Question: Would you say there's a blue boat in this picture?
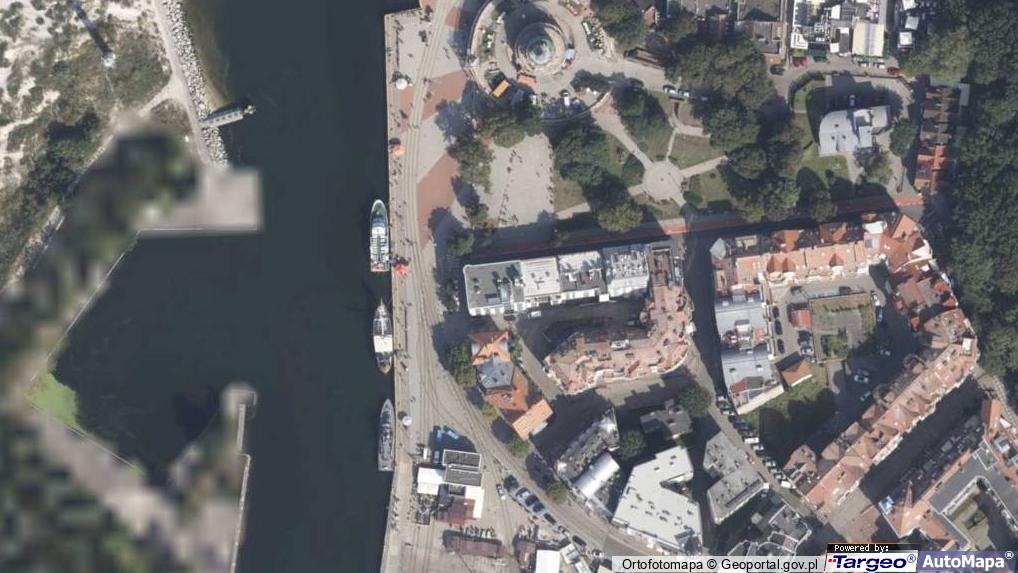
No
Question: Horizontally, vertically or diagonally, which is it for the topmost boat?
vertically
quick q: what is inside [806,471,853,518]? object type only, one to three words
house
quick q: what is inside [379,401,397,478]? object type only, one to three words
ship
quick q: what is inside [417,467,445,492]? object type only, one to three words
tent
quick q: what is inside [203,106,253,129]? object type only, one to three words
pier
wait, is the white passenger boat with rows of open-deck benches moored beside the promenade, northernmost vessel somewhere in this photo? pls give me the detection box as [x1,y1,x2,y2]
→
[371,201,394,277]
